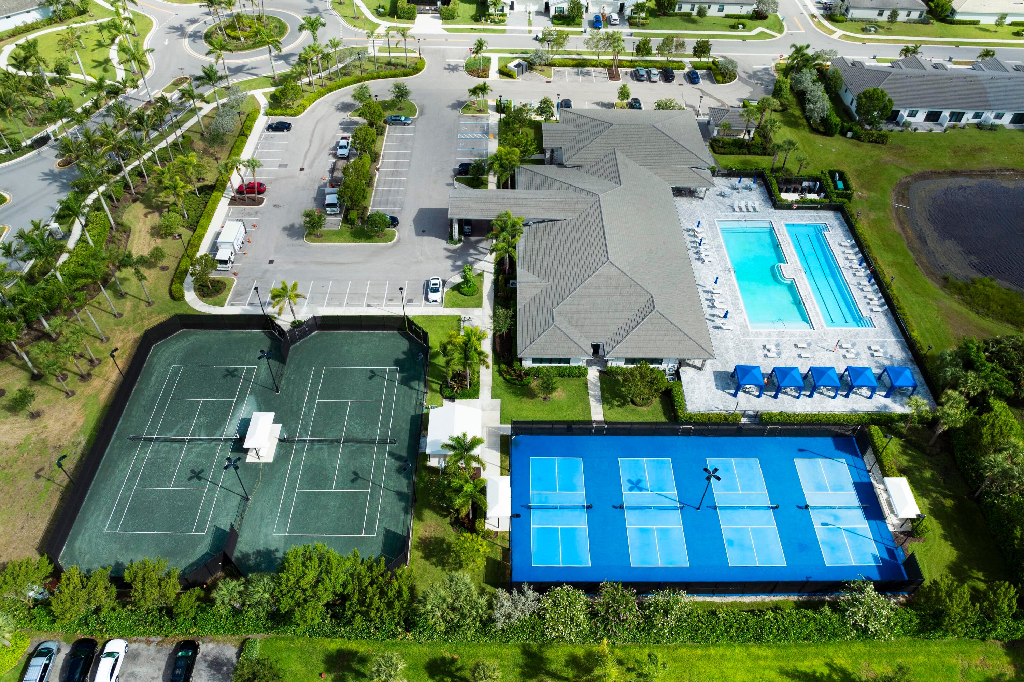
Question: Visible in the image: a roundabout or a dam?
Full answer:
Looking from above, you can make out a roundabout.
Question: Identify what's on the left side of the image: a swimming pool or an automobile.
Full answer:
The one visible on the left side of the image is an automobile.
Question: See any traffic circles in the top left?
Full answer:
Yes, a traffic circle appears in the top left.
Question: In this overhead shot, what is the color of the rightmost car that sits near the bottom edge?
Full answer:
In this view, the rightmost car that sits near the bottom edge is black.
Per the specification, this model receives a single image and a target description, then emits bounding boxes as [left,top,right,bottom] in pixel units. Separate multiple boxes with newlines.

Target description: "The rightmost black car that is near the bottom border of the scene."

[168,641,200,682]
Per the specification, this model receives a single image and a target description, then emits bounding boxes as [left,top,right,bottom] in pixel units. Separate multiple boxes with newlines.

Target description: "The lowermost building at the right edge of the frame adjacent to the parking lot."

[824,48,1024,129]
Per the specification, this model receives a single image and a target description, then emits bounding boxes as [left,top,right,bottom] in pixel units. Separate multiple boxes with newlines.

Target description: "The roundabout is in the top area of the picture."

[183,8,308,64]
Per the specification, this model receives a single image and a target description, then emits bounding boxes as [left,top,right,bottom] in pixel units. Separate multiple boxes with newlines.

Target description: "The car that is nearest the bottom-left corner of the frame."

[17,638,60,682]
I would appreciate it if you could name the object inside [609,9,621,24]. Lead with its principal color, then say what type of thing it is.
white vehicle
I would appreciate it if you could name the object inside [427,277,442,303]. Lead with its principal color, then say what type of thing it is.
white car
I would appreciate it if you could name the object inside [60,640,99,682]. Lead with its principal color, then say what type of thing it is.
black car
